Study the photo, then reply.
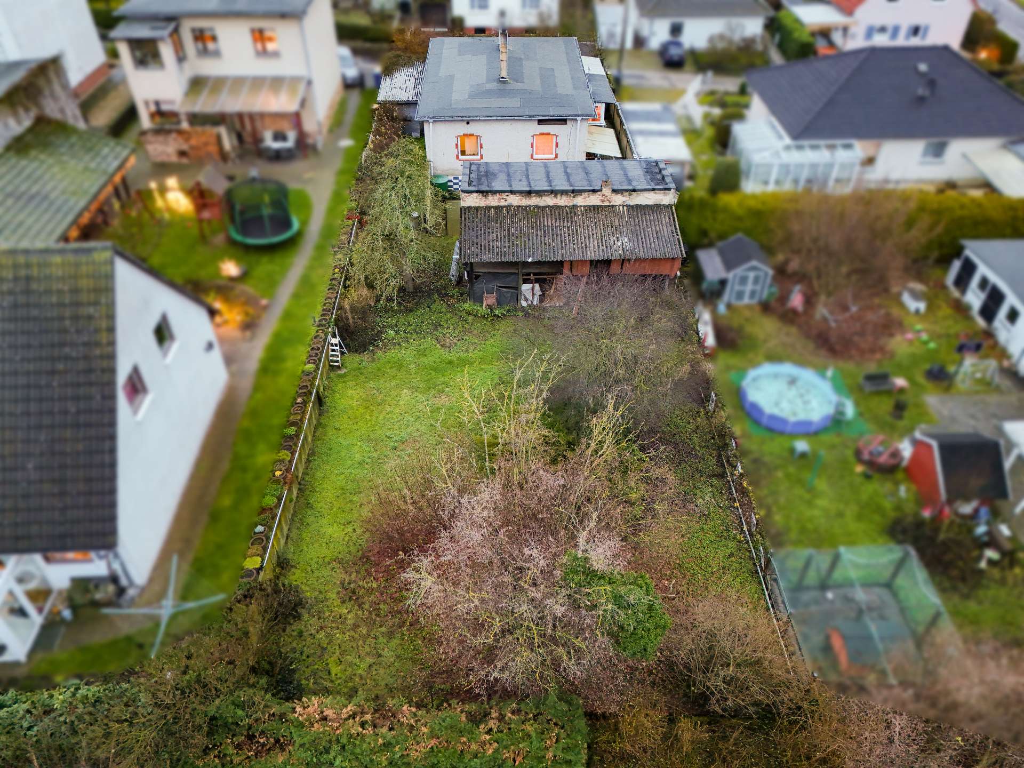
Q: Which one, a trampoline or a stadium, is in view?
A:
trampoline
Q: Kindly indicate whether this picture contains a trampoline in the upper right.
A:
No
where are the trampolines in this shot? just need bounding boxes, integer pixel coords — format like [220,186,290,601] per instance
[218,172,305,253]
